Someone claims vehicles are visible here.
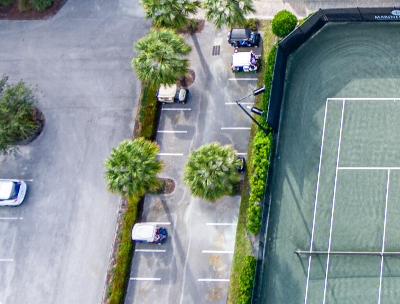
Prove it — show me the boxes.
[225,53,259,75]
[126,225,166,247]
[227,27,261,49]
[152,83,189,105]
[0,182,29,208]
